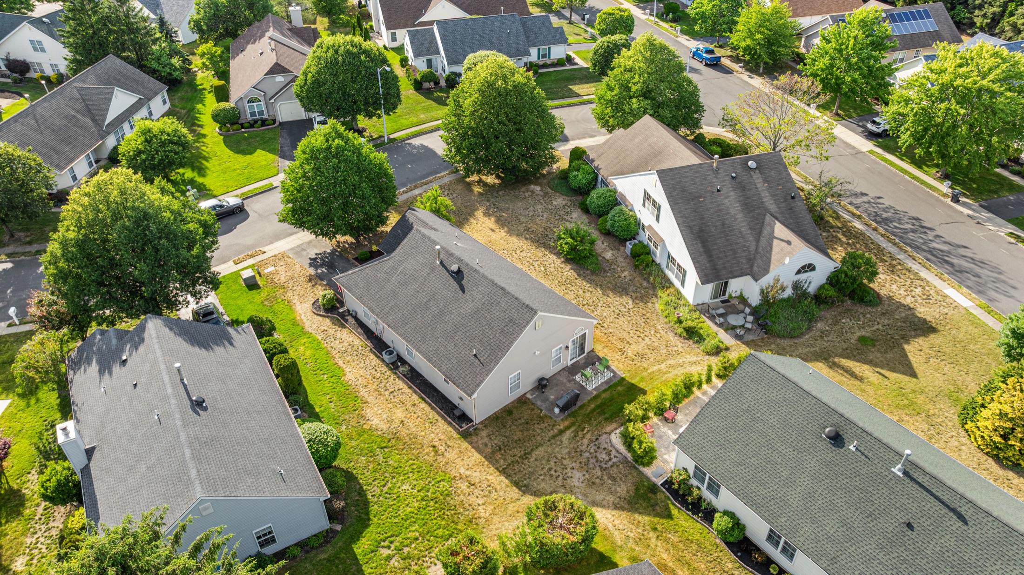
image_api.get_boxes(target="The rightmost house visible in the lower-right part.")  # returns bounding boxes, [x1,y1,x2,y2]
[669,352,1024,575]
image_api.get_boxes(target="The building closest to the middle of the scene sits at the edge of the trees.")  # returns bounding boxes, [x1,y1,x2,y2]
[332,210,601,426]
